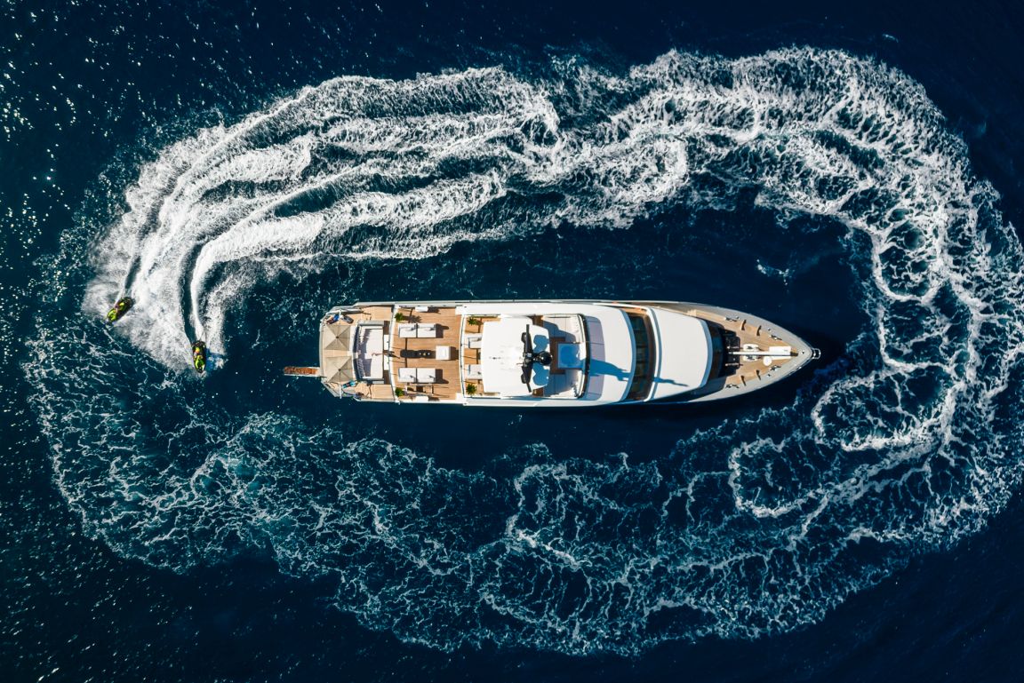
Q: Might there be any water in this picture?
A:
Yes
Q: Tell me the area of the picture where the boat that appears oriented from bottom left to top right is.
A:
left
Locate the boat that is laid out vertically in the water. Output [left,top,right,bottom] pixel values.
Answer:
[190,341,204,374]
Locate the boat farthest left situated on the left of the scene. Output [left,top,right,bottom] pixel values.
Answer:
[103,295,133,320]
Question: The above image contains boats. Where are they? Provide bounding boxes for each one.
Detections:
[190,341,204,374]
[284,300,821,407]
[103,295,133,320]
